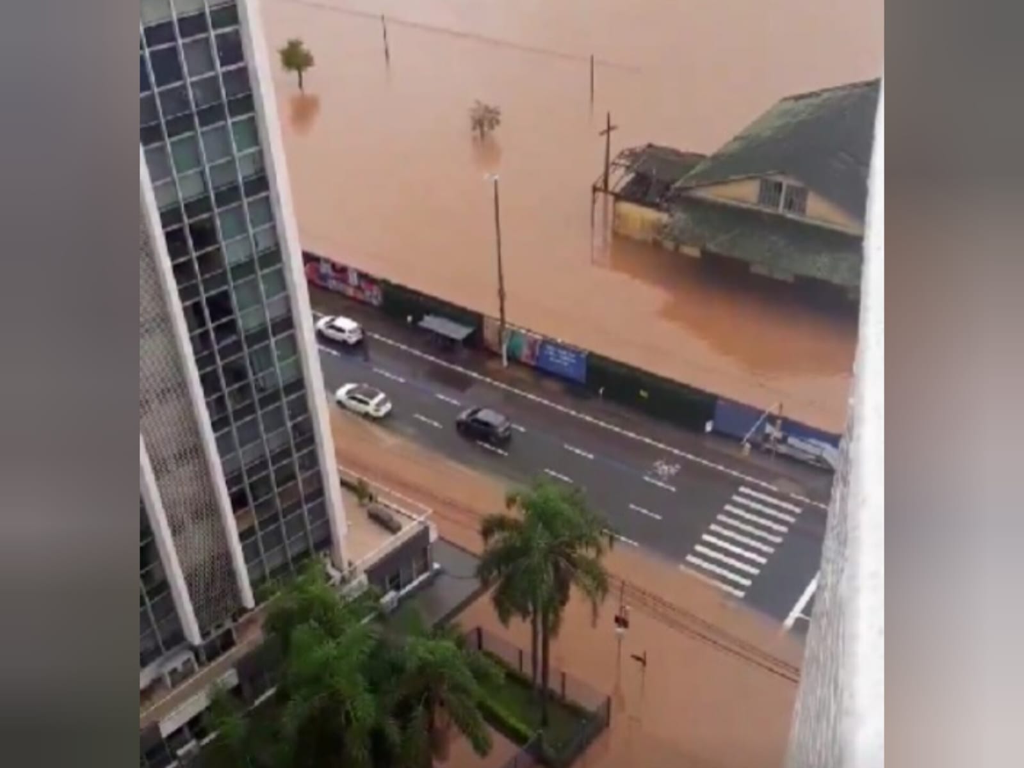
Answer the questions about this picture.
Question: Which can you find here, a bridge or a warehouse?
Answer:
warehouse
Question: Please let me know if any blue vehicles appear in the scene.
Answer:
No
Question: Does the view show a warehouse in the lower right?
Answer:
No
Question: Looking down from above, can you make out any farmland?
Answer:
No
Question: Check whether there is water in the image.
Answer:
Yes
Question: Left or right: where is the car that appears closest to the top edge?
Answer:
left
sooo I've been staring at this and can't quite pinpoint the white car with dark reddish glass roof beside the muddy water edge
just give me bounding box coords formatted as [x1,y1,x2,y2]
[336,384,393,419]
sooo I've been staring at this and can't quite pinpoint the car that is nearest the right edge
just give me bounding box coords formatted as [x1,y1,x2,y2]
[458,406,519,442]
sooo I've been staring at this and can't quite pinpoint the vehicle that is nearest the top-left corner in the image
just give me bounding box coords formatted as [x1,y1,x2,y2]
[313,315,364,345]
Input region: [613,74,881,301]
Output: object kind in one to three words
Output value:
warehouse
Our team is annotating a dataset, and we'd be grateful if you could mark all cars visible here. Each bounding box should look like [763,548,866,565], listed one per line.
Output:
[458,406,519,442]
[313,315,364,345]
[336,384,393,419]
